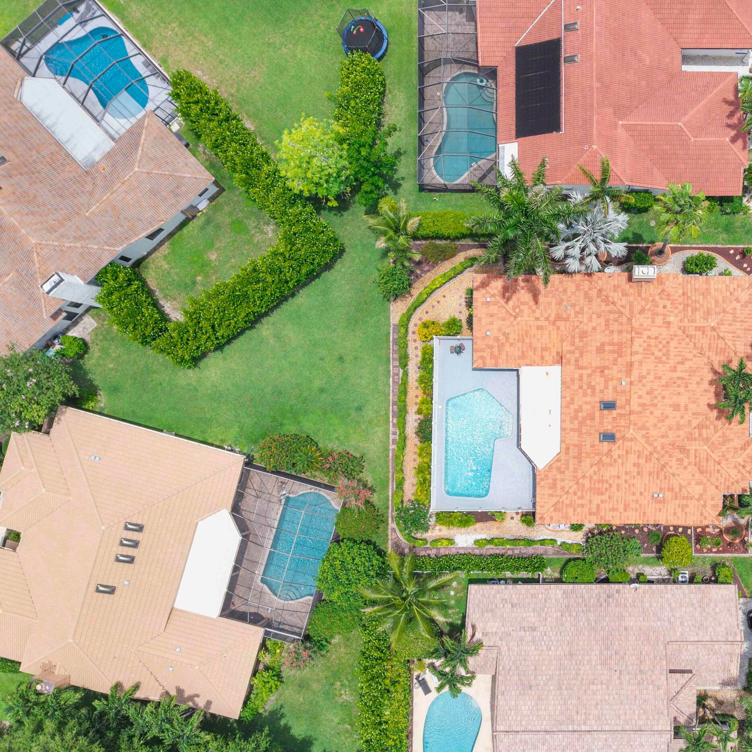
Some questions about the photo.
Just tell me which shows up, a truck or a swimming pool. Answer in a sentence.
I can see a swimming pool in this picture.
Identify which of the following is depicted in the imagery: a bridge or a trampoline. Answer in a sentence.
Looking from above, you can make out a trampoline.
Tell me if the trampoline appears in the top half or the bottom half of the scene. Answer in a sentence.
You can find the trampoline in the top half.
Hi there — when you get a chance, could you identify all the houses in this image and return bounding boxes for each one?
[0,408,271,720]
[0,41,218,384]
[469,582,743,752]
[470,0,752,198]
[471,265,752,526]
